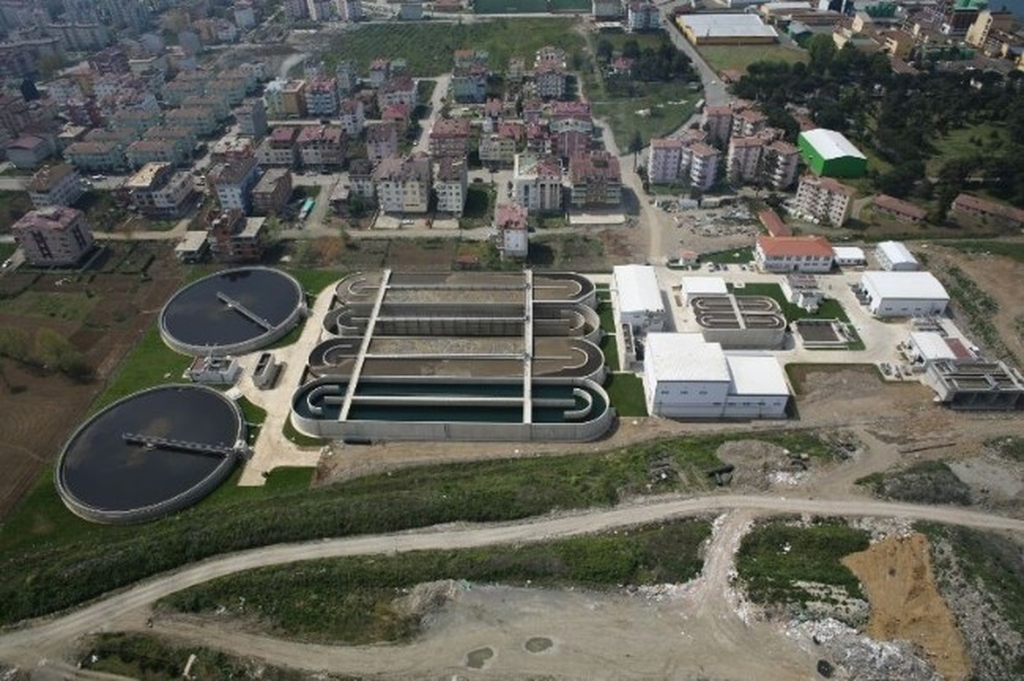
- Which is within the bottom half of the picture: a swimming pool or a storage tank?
storage tank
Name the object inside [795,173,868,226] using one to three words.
building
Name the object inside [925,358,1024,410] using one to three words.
storage tank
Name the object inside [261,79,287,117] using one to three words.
building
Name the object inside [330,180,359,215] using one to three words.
house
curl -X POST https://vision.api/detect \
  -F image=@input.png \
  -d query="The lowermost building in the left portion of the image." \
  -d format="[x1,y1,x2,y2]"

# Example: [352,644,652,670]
[186,342,240,382]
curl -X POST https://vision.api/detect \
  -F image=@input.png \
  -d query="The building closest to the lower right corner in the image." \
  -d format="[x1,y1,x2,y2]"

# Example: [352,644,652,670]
[905,327,961,369]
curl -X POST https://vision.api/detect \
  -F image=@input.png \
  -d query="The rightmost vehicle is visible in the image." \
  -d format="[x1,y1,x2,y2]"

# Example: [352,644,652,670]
[965,336,990,355]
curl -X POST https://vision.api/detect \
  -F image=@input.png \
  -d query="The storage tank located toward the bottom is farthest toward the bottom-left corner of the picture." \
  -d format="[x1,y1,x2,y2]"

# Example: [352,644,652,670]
[56,382,262,529]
